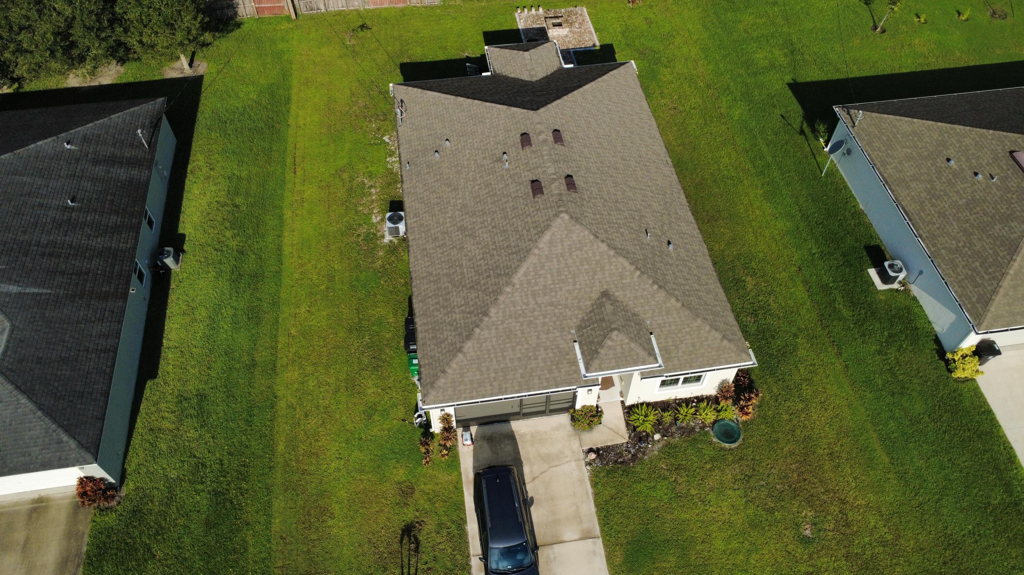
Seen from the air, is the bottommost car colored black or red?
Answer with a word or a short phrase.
black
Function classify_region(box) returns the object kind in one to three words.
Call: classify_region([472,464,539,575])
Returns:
car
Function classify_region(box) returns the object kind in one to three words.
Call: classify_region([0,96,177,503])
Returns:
house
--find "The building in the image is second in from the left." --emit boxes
[389,39,759,433]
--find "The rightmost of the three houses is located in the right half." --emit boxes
[824,85,1024,362]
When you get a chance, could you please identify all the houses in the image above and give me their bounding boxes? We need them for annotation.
[824,85,1024,362]
[389,39,759,433]
[0,96,177,503]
